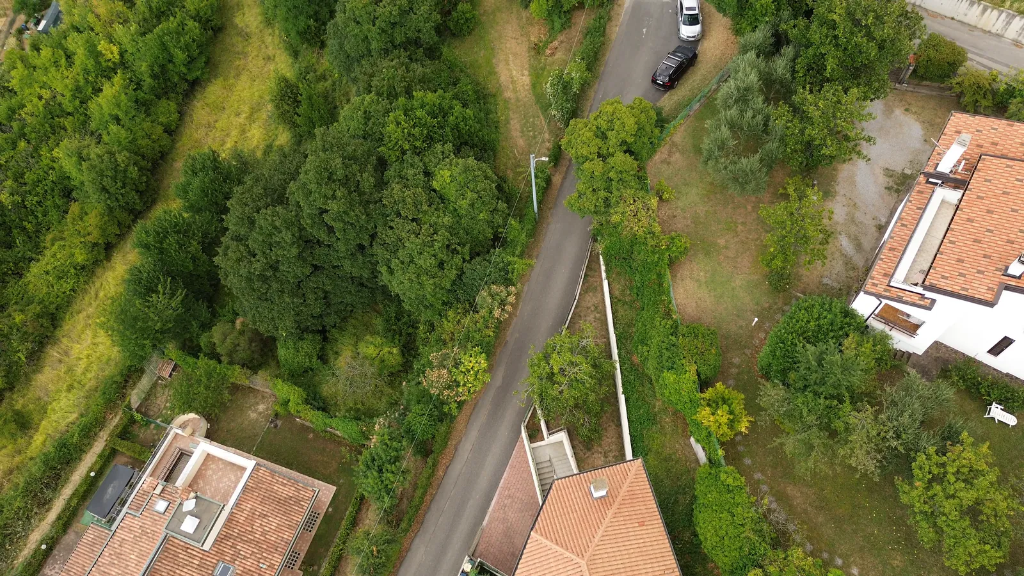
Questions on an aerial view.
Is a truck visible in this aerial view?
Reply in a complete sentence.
No, no truck can be seen from above.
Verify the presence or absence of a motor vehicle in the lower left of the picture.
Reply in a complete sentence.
No, no motor vehicle appears in the lower left of the picture.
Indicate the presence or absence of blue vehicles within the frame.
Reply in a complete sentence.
No, I find no blue vehicle anywhere in the image.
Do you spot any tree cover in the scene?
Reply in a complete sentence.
Yes, there is tree cover in the image.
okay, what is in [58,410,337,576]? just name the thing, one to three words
house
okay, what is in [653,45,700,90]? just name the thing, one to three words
car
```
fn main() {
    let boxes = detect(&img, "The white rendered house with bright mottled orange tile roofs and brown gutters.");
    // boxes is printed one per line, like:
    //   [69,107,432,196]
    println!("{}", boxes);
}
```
[851,110,1024,381]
